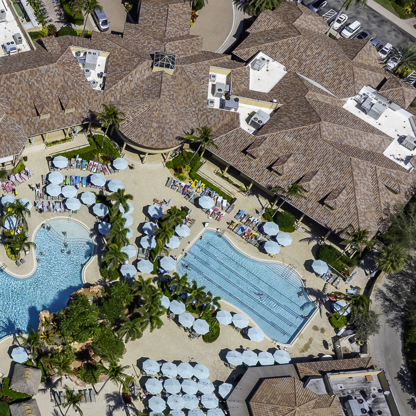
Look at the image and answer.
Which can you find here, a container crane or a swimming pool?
swimming pool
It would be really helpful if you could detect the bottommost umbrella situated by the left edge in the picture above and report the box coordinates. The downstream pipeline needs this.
[11,348,28,364]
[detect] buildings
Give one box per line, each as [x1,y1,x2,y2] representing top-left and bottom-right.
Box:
[0,0,416,256]
[223,357,402,416]
[10,363,40,397]
[9,399,41,416]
